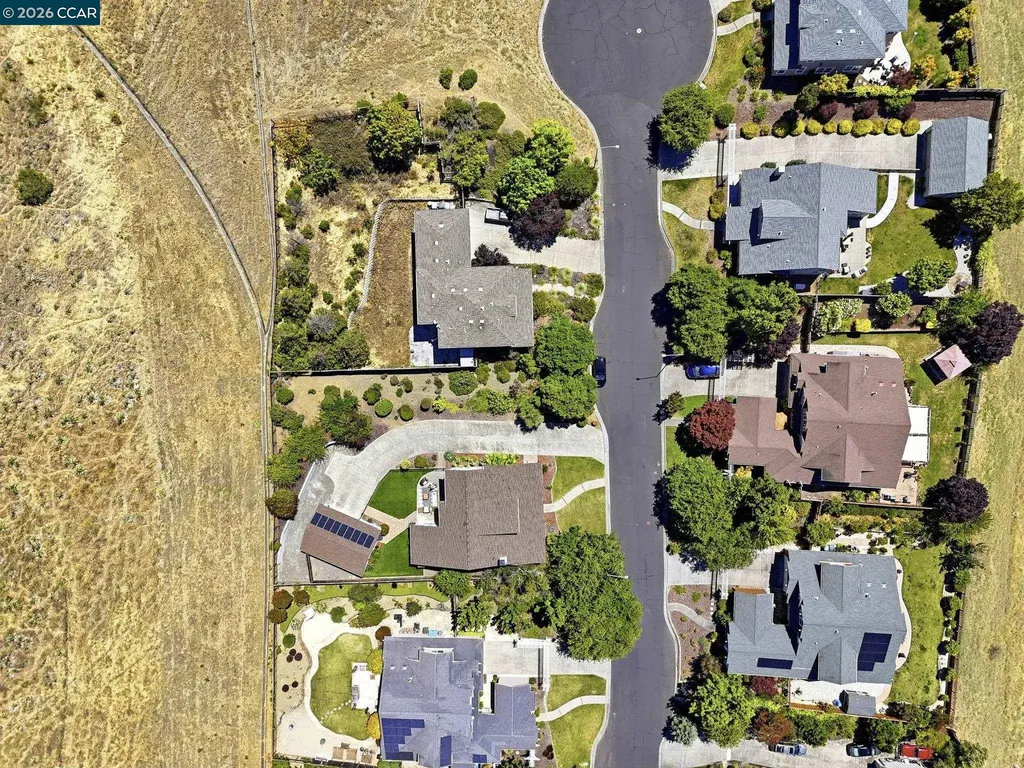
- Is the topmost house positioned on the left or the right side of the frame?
right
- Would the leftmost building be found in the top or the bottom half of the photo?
bottom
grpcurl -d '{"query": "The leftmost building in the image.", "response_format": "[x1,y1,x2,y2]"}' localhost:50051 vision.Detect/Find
[300,503,381,576]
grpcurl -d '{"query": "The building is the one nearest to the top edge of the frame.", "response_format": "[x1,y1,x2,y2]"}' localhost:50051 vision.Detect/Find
[770,0,908,76]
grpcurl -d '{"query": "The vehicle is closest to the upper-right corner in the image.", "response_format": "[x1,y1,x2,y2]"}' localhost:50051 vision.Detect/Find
[688,363,720,380]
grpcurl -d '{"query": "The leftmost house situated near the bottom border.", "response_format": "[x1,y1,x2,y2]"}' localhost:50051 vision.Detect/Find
[379,634,537,768]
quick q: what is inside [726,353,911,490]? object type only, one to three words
house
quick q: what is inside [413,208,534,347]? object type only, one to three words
house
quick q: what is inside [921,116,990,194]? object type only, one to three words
building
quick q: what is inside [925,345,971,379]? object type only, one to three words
gazebo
